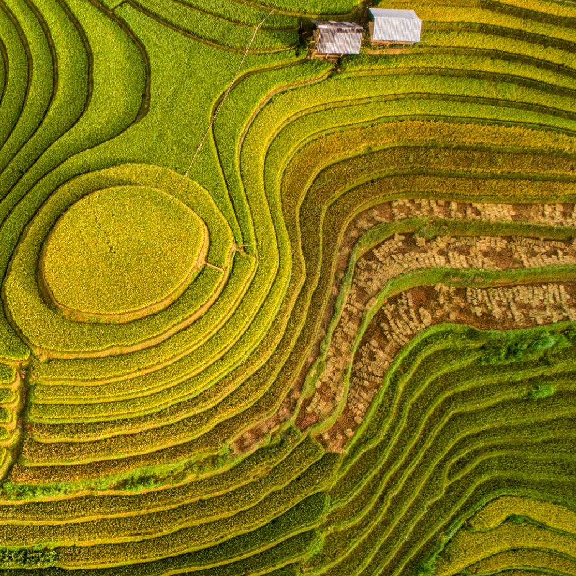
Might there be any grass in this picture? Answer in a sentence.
Yes, there is grass in the image.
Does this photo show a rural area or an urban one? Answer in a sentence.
This place is rural.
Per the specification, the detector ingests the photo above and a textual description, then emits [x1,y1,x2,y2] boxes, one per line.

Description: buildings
[306,21,362,62]
[359,9,423,52]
